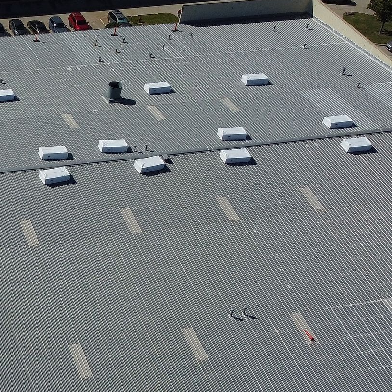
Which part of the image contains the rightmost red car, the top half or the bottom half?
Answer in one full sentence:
The top half of the photo is where the rightmost red car is.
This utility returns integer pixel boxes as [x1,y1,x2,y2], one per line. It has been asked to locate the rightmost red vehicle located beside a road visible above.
[65,10,88,32]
